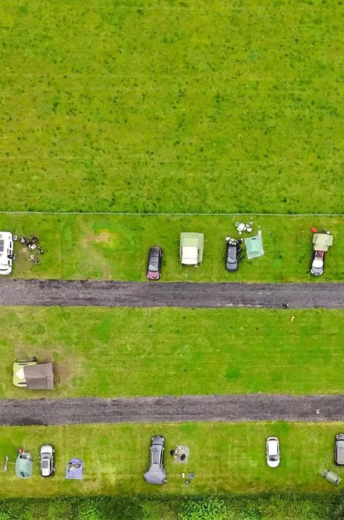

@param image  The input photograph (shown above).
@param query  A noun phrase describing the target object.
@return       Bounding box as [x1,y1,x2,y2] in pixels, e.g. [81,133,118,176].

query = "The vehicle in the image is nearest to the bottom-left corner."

[38,445,55,476]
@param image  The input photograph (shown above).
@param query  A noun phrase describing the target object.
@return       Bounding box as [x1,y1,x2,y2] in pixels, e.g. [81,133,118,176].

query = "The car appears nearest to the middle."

[146,246,163,280]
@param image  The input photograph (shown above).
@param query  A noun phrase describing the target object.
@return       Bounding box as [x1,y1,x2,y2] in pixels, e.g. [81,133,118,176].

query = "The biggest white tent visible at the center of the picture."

[175,229,209,270]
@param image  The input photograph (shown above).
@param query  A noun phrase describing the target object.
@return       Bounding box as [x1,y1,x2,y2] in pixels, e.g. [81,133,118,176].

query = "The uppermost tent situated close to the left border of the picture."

[10,361,40,388]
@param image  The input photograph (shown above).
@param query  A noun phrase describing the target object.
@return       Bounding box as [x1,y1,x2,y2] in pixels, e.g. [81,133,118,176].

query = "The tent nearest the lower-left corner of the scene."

[9,453,33,482]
